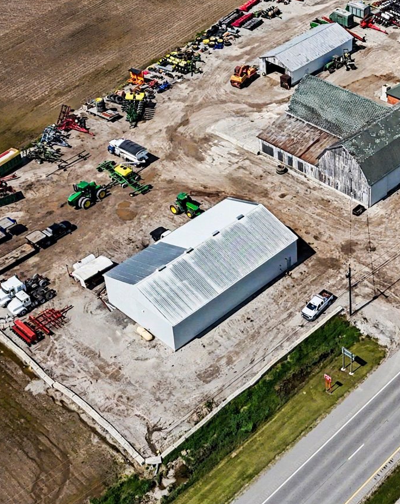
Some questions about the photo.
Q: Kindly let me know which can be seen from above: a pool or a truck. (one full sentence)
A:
The image shows a truck.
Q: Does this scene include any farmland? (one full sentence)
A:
Yes, there's farmland in this view.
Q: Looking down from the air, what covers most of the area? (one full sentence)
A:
What you mostly see from above here is paved ground.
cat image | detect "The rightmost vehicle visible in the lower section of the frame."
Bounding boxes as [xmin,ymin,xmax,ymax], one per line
[299,294,338,322]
